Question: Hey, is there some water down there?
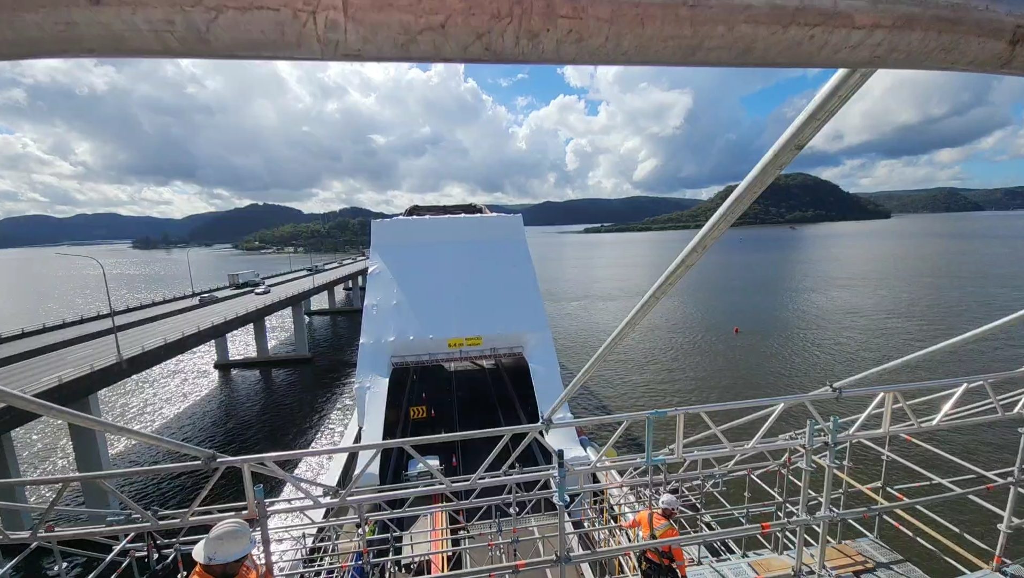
Yes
